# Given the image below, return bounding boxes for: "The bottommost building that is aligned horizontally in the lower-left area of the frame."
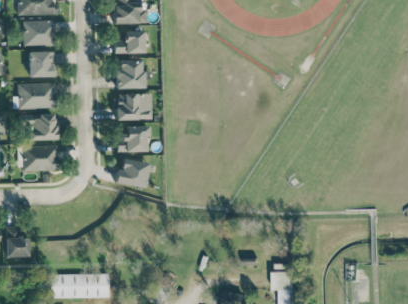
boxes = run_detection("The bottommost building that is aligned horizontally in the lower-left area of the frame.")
[54,274,110,299]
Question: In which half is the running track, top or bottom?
top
